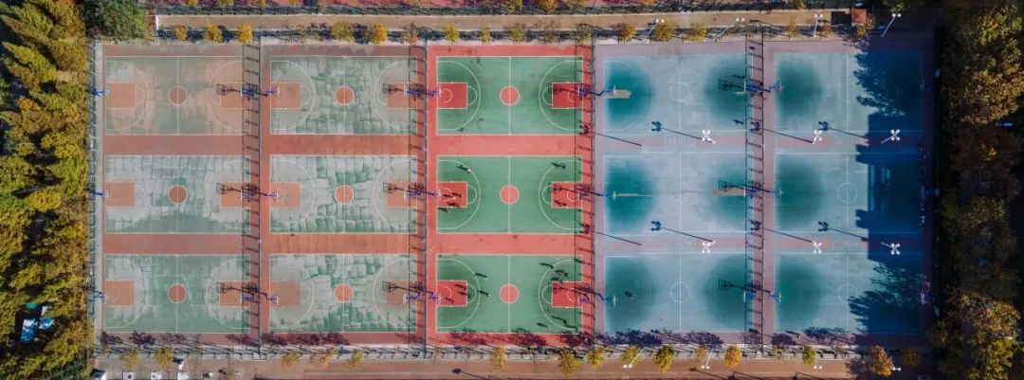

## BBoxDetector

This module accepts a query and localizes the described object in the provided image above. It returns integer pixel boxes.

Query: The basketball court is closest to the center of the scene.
[437,155,583,233]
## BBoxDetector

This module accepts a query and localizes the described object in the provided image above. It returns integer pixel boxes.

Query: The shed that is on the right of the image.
[854,5,874,27]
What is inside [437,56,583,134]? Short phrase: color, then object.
green basketball court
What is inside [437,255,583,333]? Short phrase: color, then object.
green basketball court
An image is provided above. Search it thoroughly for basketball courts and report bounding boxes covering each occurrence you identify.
[271,56,416,134]
[774,244,923,333]
[106,255,251,333]
[437,56,583,134]
[774,53,923,151]
[605,53,752,151]
[106,56,251,134]
[774,145,923,250]
[605,244,752,333]
[437,155,583,233]
[437,255,583,333]
[271,255,416,333]
[605,145,752,250]
[271,155,416,233]
[106,155,251,233]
